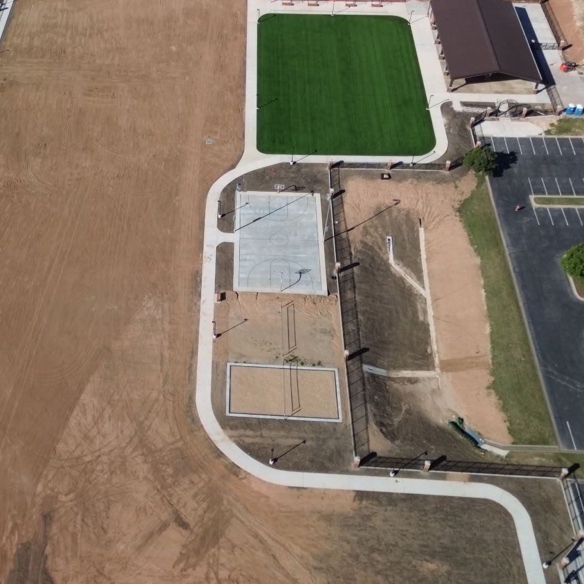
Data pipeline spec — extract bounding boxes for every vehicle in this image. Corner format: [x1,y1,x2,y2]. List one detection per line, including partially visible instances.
[559,56,584,71]
[446,417,465,429]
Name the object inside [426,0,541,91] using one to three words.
building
